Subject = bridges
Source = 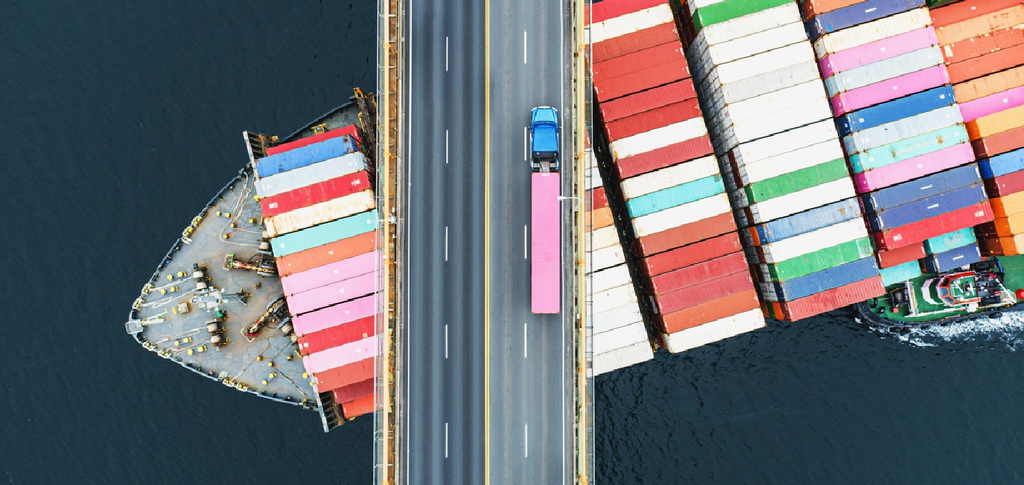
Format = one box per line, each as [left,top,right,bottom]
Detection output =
[374,0,594,485]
